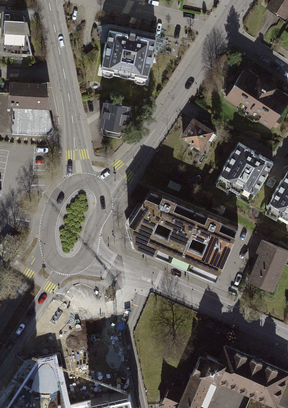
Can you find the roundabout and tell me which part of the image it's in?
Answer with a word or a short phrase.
left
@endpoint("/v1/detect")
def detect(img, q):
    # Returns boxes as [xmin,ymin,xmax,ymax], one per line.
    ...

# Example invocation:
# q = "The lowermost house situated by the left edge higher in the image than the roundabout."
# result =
[0,83,52,136]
